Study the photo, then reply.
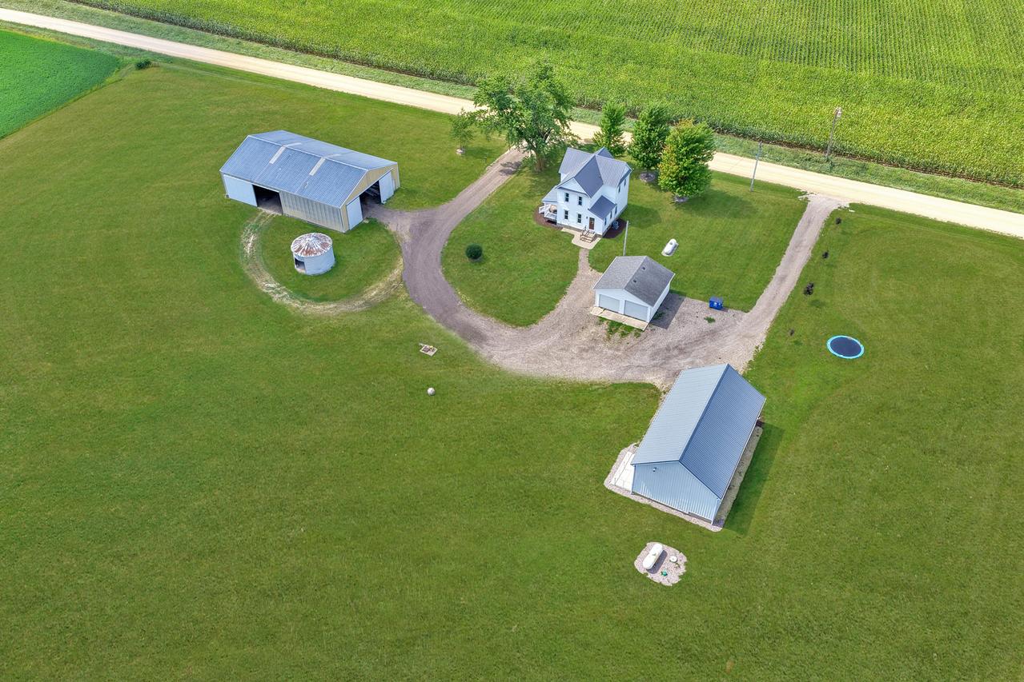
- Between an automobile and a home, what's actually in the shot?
home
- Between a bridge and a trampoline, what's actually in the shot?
trampoline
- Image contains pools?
No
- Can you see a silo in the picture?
Yes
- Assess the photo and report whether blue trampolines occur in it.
Yes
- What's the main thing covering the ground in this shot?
grass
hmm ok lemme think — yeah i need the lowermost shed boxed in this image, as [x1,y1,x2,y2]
[629,363,767,525]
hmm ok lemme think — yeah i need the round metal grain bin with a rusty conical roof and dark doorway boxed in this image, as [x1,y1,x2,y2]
[291,233,337,275]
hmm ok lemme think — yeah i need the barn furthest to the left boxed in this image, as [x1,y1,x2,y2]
[219,129,400,233]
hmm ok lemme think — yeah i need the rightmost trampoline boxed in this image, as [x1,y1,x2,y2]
[826,335,866,361]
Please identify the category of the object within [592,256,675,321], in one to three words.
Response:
building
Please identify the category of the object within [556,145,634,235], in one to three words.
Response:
house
